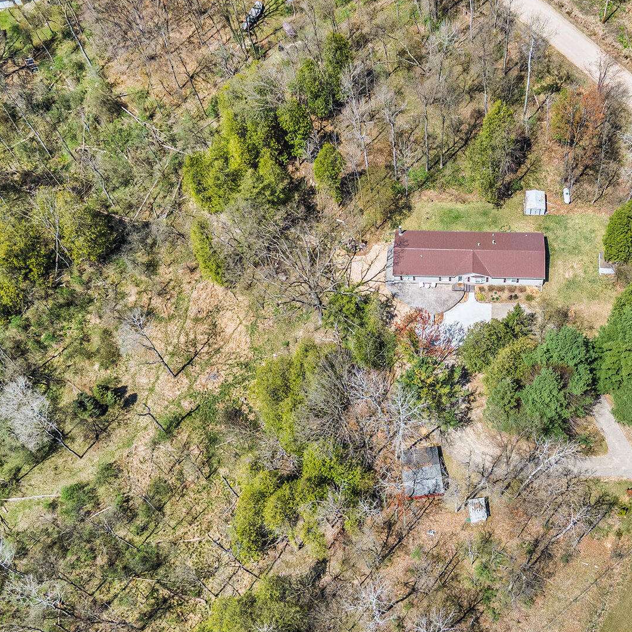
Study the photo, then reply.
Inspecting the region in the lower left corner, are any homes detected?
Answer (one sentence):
No, the scene shows no home in the lower left corner.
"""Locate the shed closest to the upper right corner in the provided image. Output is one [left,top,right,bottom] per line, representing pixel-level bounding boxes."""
[525,187,547,215]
